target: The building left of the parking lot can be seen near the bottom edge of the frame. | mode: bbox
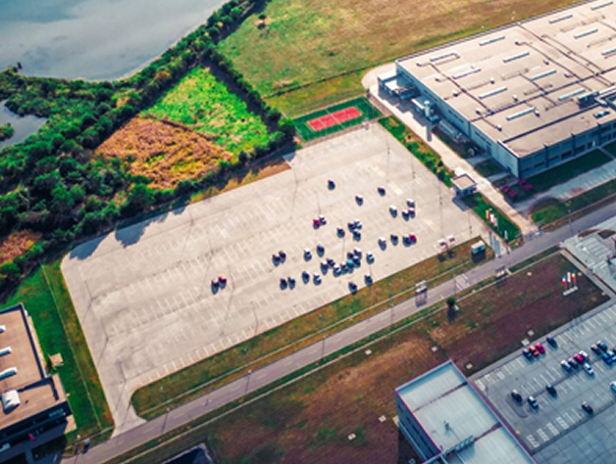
[0,309,74,447]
